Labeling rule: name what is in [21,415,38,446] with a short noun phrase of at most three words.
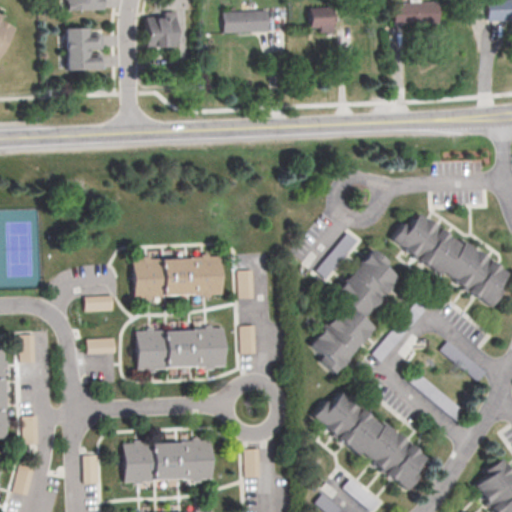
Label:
building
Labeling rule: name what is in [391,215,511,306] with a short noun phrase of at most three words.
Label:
house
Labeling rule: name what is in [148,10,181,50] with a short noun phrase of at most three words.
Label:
house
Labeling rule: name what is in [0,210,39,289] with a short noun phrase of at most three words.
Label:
tennis court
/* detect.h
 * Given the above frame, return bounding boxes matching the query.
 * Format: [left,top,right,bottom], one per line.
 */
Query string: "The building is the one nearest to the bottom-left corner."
[12,466,34,496]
